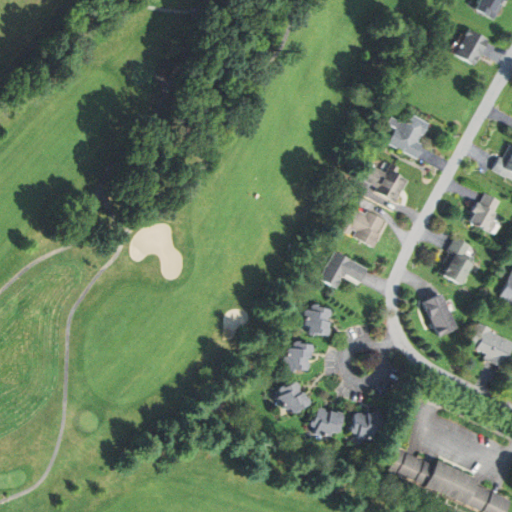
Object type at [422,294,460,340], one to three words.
house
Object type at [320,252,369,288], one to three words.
house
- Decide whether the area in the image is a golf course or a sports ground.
golf course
